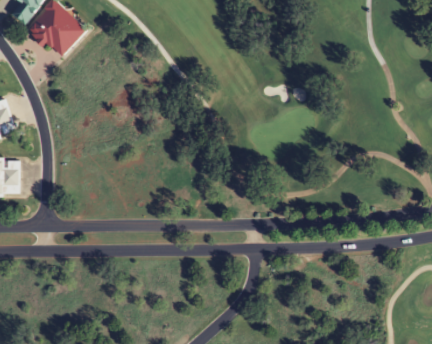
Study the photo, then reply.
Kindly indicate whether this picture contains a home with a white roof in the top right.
No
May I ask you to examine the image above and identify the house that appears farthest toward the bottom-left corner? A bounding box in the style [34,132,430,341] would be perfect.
[0,157,22,198]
